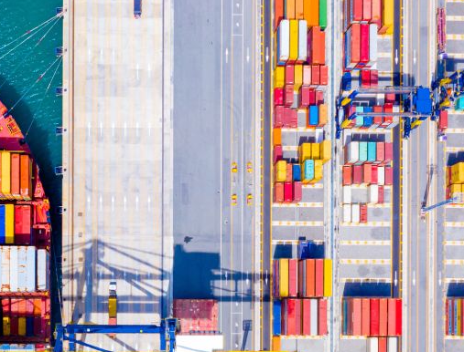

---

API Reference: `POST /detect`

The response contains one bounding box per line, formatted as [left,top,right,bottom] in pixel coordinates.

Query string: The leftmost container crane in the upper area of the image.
[335,85,436,135]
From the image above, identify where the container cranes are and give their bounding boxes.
[432,68,464,120]
[0,313,311,352]
[335,85,436,135]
